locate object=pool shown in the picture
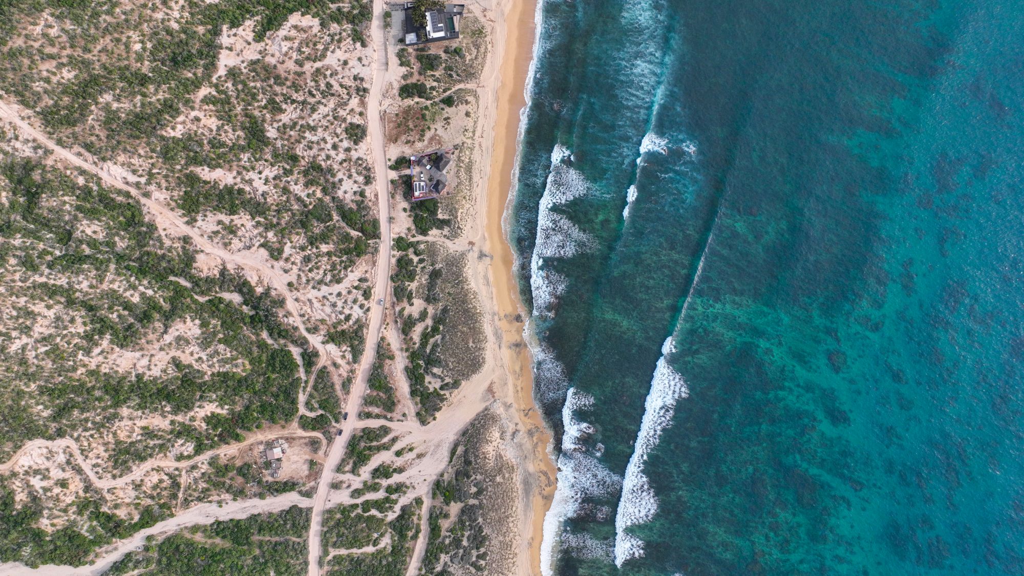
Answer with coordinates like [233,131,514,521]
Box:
[446,13,461,36]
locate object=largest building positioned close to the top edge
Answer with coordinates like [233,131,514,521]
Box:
[426,9,447,40]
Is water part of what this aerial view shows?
Yes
